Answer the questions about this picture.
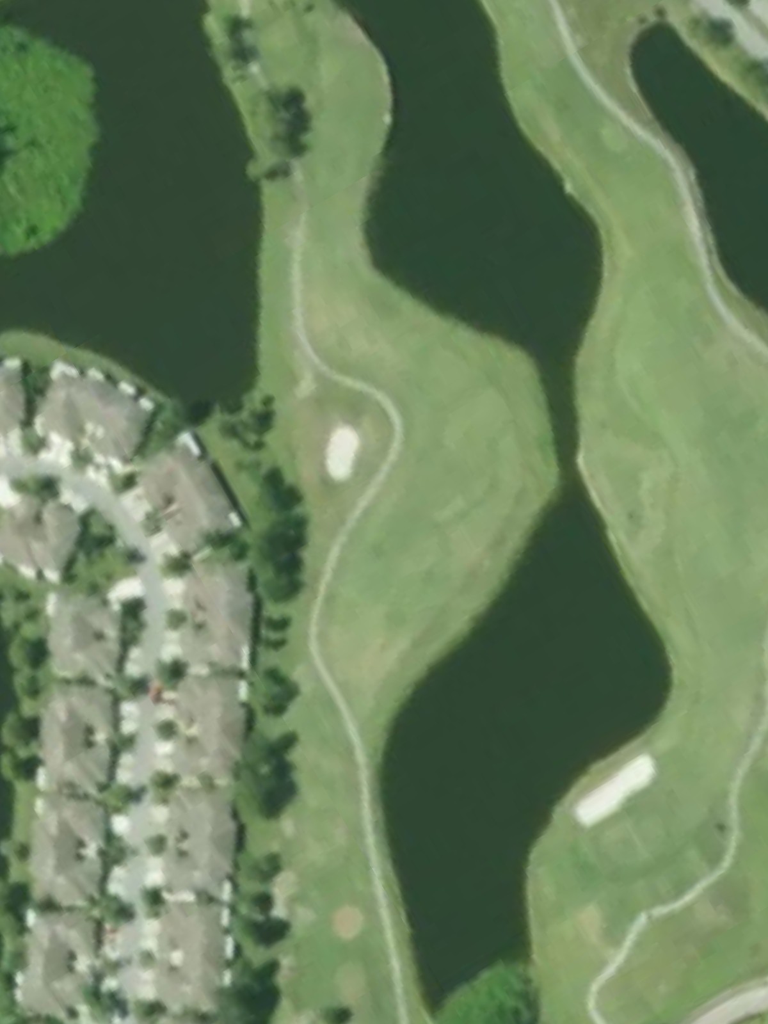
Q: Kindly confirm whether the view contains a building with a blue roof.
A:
No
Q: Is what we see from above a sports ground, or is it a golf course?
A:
golf course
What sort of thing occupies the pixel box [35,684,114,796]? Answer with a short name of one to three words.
house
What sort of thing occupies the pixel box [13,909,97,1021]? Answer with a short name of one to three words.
house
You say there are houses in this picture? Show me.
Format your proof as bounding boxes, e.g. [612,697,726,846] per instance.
[46,591,120,678]
[153,901,234,1013]
[172,678,249,788]
[35,684,114,796]
[162,791,237,902]
[0,492,82,584]
[137,430,246,553]
[13,909,97,1021]
[34,361,154,461]
[180,562,254,673]
[28,795,106,906]
[0,359,28,445]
